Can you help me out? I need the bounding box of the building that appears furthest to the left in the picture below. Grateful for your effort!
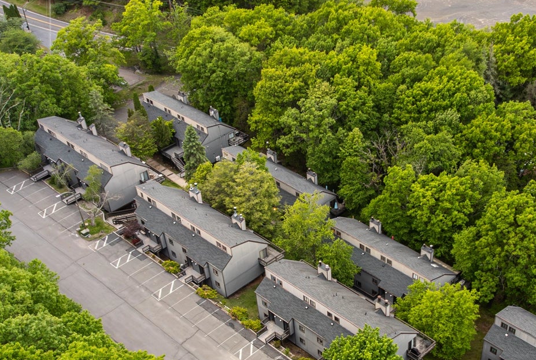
[32,111,165,211]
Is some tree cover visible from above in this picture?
Yes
